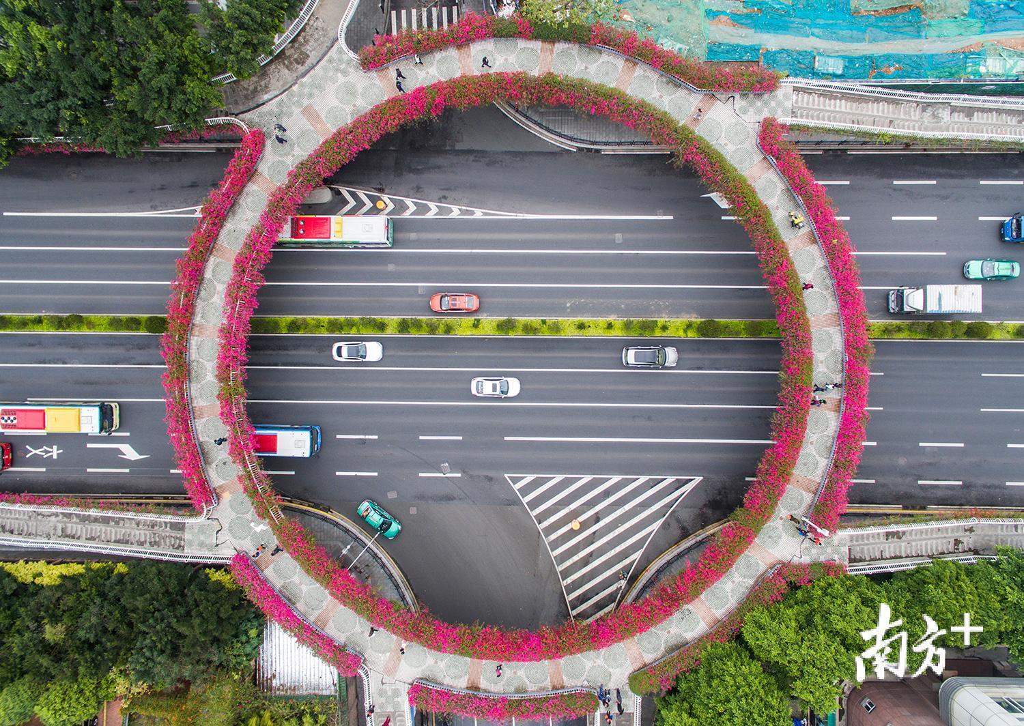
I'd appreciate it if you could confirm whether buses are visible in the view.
Yes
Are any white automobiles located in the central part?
Yes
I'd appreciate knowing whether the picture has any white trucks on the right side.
Yes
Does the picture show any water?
No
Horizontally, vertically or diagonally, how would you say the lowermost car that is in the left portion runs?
diagonally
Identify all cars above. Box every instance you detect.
[359,499,401,540]
[332,340,383,363]
[471,376,520,399]
[959,257,1017,281]
[431,291,479,314]
[0,446,13,466]
[622,344,676,368]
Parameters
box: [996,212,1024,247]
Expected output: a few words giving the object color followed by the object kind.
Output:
blue truck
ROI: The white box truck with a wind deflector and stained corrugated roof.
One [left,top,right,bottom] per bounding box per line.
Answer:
[883,282,985,316]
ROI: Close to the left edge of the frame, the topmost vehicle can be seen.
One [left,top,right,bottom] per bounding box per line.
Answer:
[0,401,116,436]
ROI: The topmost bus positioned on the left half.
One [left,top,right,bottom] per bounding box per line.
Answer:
[279,211,393,244]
